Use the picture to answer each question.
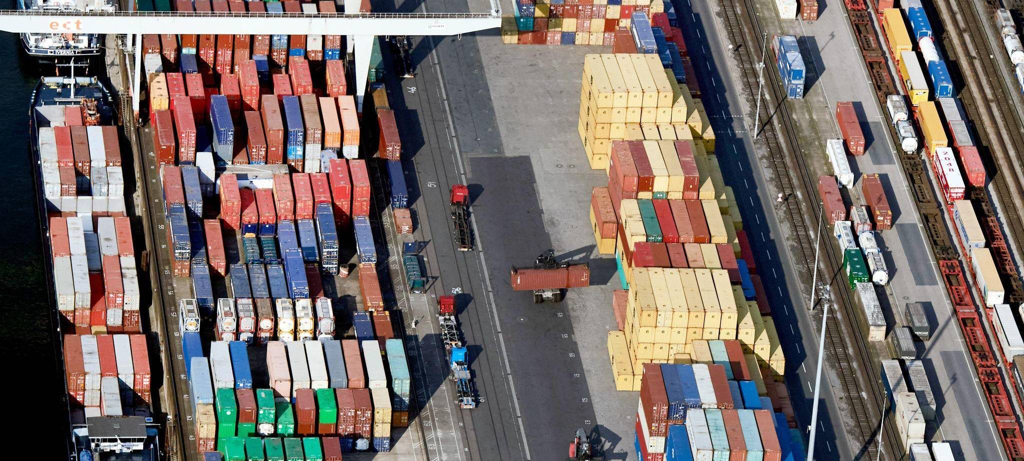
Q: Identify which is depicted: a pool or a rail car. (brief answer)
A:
rail car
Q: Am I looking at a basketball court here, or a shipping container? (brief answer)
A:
shipping container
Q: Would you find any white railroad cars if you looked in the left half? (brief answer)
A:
No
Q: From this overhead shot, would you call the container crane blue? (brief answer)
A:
No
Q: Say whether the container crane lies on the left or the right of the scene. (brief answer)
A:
left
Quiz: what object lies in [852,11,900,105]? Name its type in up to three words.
rail car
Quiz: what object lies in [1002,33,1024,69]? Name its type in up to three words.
rail car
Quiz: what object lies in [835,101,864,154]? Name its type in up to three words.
shipping container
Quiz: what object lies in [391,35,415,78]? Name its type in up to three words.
truck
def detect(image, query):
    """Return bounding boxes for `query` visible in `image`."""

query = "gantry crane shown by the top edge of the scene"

[0,0,506,124]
